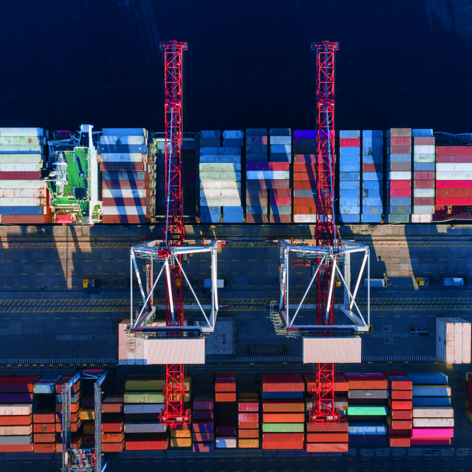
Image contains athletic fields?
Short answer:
No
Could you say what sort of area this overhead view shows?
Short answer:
port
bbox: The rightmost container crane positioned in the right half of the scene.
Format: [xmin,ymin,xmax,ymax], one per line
[256,41,372,423]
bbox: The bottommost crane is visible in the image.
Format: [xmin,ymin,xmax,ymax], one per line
[59,368,116,472]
